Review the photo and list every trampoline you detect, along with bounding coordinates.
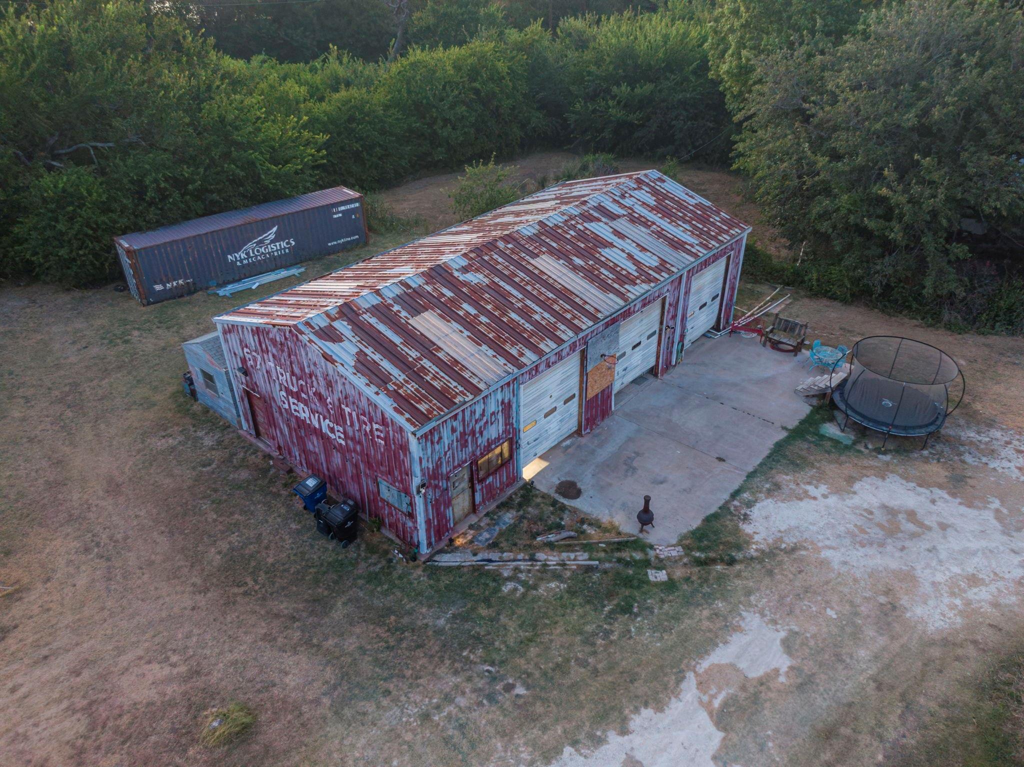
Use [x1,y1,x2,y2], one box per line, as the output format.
[823,335,959,457]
